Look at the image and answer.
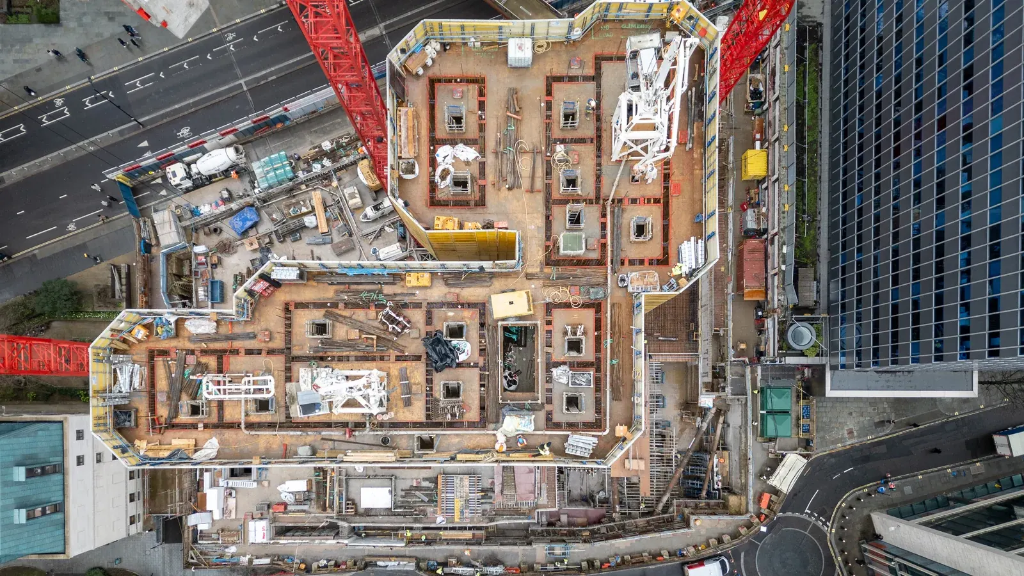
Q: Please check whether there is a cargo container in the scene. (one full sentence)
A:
Yes, there's a cargo container here.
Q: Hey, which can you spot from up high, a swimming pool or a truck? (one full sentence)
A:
This aerial view contains a truck.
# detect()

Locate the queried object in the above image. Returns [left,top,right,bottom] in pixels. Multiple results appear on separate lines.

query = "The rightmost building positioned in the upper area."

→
[831,0,1024,371]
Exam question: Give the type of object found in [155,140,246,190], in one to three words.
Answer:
truck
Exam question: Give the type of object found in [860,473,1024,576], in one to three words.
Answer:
building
